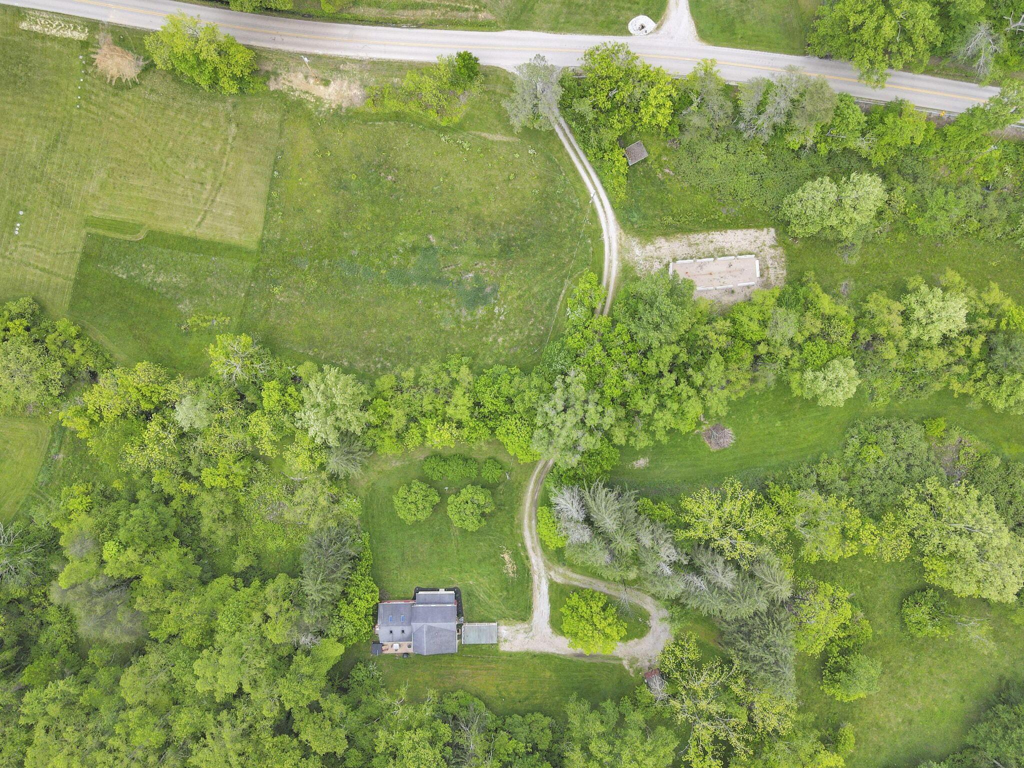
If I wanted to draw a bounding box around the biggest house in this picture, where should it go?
[378,583,461,658]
